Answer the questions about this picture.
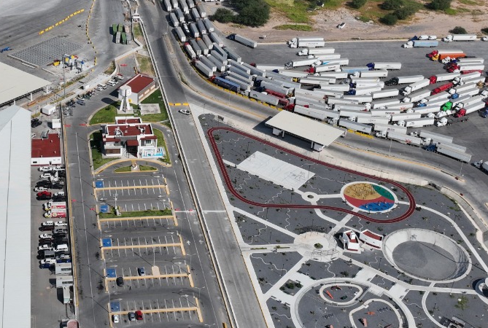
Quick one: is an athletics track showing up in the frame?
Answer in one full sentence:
Yes, an athletics track can be made out from above.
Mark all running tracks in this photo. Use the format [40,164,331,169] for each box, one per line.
[205,125,416,223]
